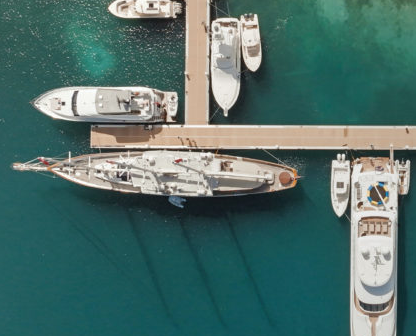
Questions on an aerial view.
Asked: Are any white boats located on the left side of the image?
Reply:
Yes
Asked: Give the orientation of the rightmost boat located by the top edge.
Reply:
up and down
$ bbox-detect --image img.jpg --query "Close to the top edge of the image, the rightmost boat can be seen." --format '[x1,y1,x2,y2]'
[242,12,262,72]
